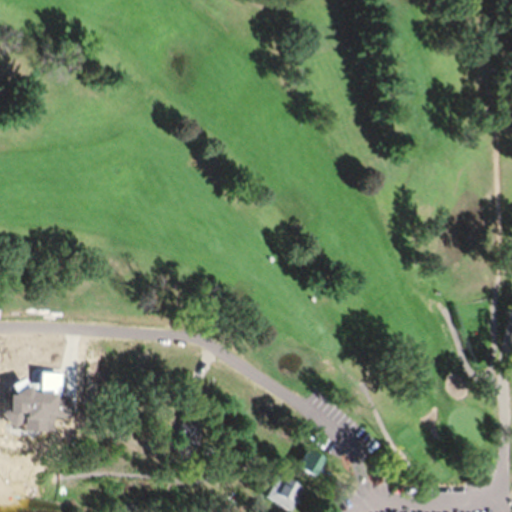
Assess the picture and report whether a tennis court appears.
No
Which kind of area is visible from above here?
golf course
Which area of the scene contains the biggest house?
bottom left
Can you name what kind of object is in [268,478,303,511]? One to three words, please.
house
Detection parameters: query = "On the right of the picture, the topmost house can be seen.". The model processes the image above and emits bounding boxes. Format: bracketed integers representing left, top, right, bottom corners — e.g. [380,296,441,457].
[305,452,326,479]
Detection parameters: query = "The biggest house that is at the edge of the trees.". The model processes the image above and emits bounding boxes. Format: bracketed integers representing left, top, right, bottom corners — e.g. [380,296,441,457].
[4,372,70,432]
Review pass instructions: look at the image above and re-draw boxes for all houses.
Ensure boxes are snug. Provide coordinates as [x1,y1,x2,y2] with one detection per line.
[4,372,70,432]
[268,478,303,511]
[305,452,326,479]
